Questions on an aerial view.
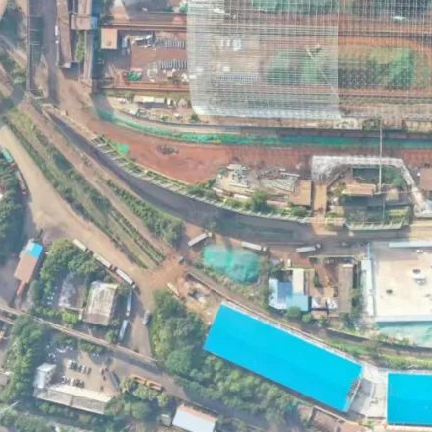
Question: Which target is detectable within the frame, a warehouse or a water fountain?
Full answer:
There is a warehouse in the scene.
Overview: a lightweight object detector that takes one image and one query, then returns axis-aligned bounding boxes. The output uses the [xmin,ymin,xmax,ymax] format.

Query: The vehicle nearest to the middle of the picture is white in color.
[185,231,210,248]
